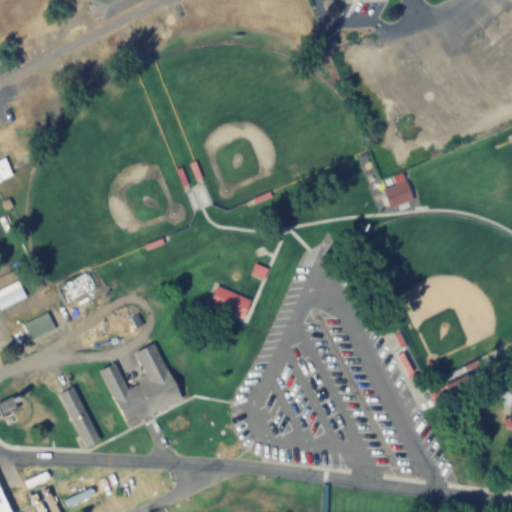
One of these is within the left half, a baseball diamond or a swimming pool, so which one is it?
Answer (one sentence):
There is a baseball diamond within the left half.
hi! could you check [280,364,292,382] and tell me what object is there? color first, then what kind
white vehicle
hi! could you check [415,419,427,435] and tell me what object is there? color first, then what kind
white vehicle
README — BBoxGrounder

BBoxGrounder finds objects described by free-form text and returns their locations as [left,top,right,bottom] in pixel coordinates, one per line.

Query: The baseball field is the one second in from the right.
[156,45,362,210]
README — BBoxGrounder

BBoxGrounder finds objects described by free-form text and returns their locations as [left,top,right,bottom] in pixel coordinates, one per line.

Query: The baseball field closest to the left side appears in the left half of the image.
[30,70,196,281]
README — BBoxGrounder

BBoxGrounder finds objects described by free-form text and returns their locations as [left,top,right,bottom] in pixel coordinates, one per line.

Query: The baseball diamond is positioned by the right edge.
[386,216,512,378]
